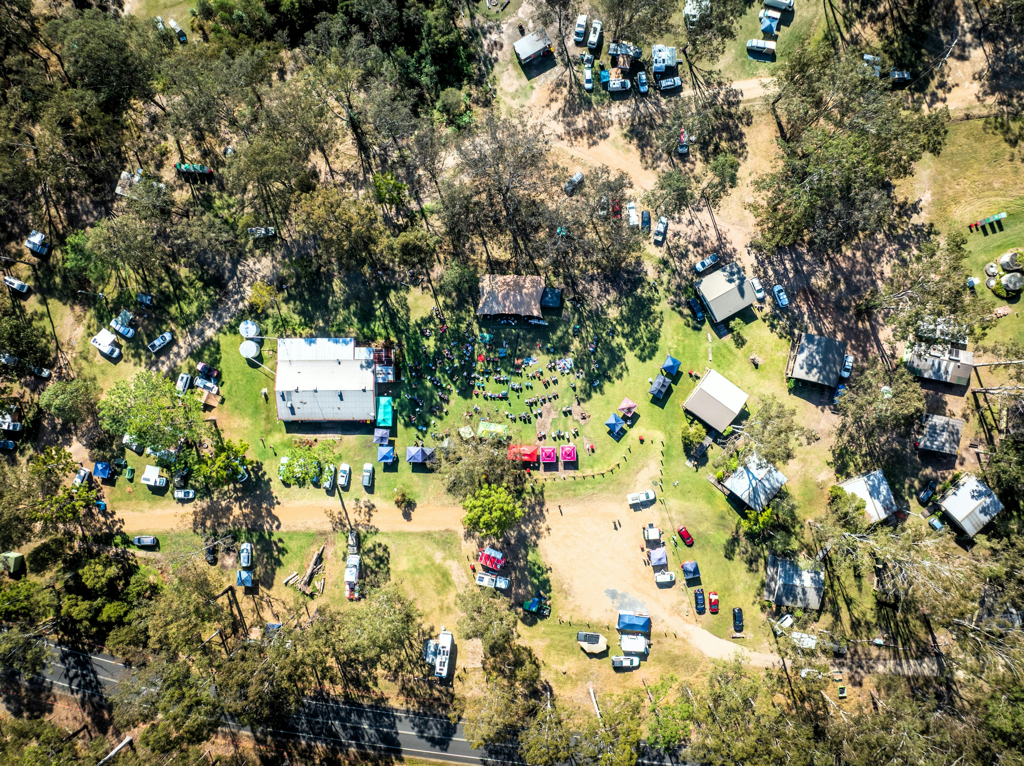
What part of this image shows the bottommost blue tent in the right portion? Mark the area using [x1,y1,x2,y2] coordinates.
[618,611,648,631]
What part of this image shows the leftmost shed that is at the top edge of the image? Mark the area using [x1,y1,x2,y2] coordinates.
[514,28,551,65]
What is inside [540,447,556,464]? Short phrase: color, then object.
pink gazebo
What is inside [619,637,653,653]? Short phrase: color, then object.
white camper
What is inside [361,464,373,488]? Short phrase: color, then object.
white vehicle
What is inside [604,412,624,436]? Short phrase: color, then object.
blue gazebo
